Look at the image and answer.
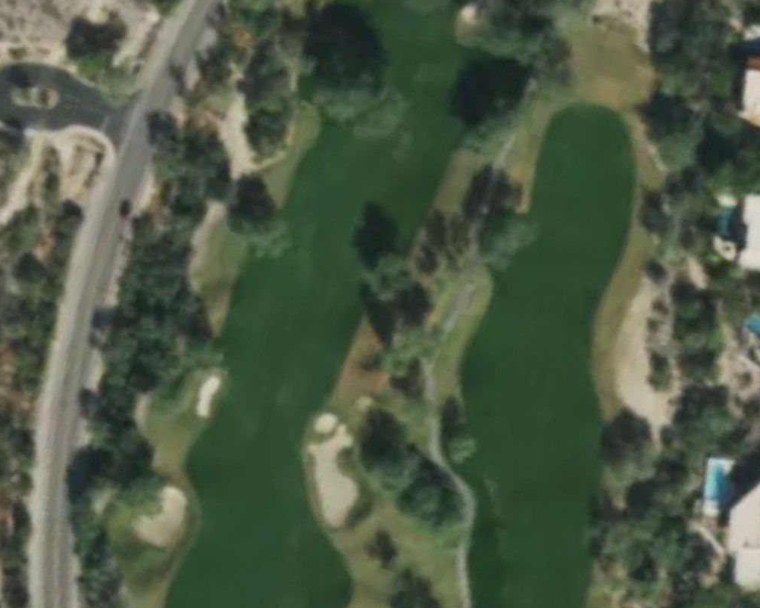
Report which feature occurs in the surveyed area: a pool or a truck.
pool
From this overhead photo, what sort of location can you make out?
golf course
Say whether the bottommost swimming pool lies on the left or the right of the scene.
right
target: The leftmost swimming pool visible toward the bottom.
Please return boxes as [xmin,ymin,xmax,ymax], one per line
[703,458,734,516]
